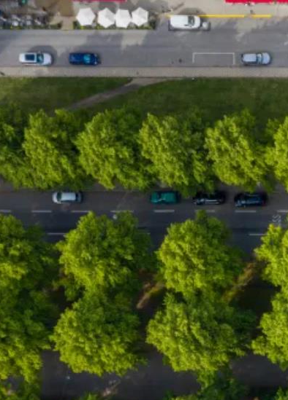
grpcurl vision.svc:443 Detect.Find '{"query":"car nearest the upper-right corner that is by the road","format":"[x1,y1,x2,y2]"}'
[240,50,271,66]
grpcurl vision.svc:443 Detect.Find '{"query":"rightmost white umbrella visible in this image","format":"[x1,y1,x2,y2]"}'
[132,8,148,26]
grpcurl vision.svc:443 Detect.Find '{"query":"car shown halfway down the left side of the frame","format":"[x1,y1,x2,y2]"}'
[54,189,83,205]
